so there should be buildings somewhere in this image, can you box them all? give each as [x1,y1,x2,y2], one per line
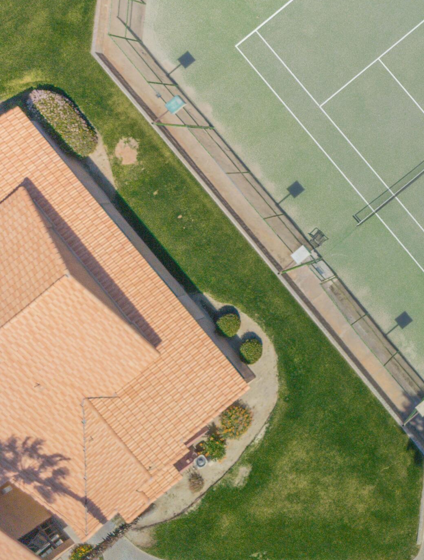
[0,523,73,560]
[0,106,257,543]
